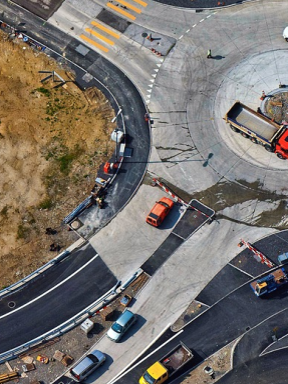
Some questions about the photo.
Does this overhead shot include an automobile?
Yes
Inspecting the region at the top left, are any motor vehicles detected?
No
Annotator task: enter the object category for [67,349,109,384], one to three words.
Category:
car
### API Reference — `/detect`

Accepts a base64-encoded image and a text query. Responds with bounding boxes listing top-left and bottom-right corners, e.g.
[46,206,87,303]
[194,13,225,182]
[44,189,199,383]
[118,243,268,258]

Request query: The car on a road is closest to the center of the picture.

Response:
[145,195,176,230]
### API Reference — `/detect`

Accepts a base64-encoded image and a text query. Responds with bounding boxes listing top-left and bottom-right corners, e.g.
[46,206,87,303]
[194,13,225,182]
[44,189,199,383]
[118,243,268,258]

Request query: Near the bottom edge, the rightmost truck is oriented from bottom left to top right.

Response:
[137,341,196,384]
